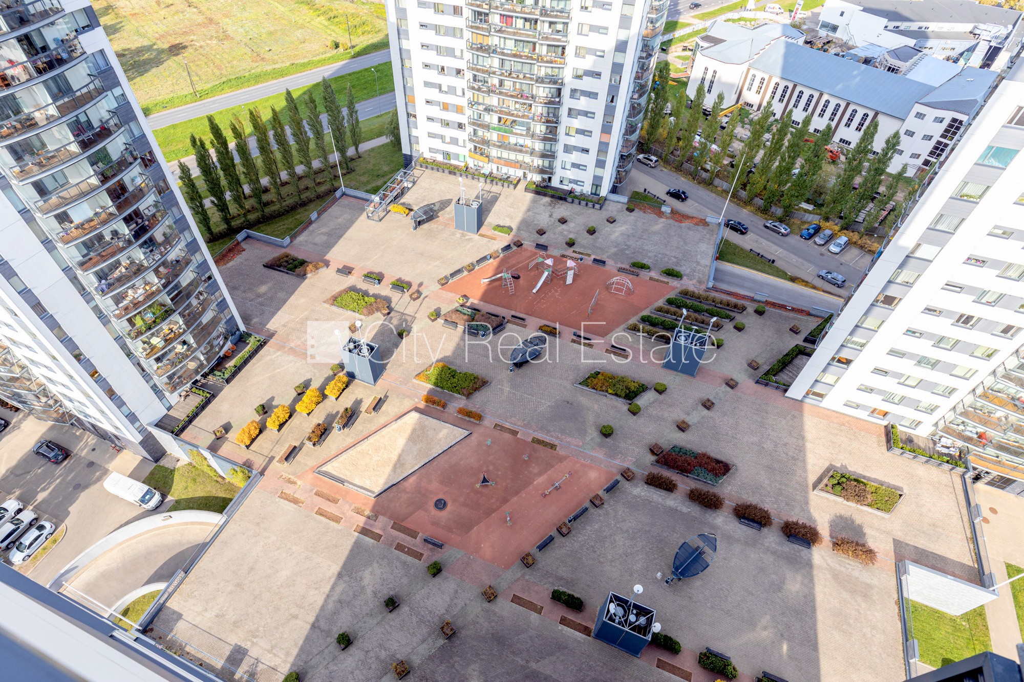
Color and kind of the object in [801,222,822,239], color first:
blue car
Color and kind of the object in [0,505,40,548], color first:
white car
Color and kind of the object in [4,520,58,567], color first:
white car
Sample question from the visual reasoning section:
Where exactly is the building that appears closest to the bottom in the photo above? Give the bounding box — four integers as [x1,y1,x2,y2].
[0,558,215,682]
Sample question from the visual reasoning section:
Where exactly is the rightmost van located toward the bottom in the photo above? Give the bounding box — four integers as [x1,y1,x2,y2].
[95,463,158,507]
